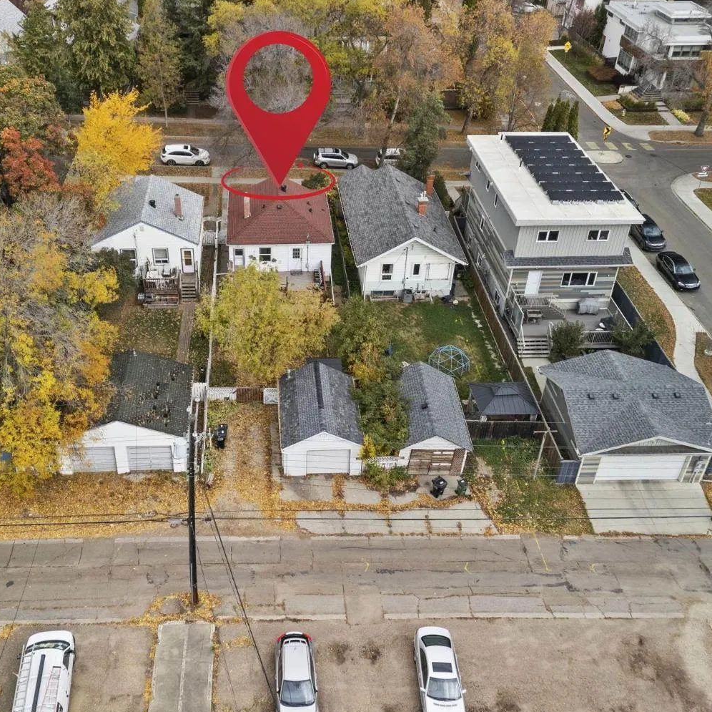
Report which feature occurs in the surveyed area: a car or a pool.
car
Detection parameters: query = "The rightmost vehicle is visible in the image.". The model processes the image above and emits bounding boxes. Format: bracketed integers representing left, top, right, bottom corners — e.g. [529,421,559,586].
[651,255,703,293]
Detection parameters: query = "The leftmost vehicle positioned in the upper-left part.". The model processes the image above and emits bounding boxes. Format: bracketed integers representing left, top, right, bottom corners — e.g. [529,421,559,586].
[163,145,208,165]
